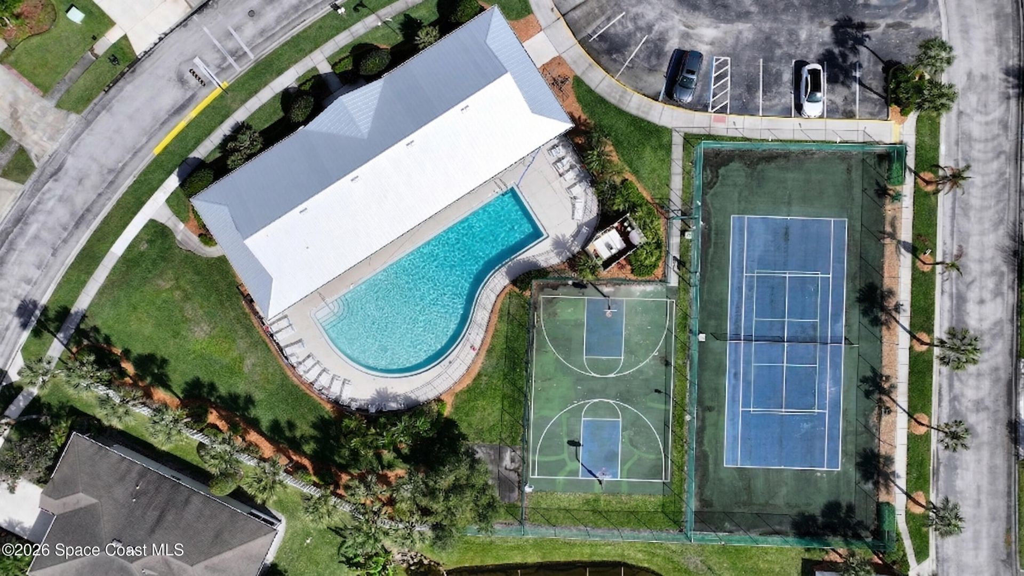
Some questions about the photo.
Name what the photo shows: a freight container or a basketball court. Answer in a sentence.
I can see a basketball court in this picture.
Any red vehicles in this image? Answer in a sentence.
No, there's no red vehicle here.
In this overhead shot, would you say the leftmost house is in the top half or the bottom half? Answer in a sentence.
It is in the bottom half that the leftmost house appears.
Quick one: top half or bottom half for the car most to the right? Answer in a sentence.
The top half of the photo is where the car most to the right is.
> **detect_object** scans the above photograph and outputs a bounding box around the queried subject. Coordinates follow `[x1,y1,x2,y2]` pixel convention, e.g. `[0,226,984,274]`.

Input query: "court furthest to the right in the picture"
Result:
[690,151,886,537]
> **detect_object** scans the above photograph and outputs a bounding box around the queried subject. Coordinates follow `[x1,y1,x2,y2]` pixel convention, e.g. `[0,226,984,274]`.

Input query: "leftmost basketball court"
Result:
[526,282,677,497]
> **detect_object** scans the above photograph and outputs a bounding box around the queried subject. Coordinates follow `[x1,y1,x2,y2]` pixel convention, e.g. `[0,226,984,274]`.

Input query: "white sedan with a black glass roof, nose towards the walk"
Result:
[799,64,826,118]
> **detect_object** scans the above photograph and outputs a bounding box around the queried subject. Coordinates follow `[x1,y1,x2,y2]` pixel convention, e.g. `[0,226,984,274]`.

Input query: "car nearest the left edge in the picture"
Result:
[671,48,702,104]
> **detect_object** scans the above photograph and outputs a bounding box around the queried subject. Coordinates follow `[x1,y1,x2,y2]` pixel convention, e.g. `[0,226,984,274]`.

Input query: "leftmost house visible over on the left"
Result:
[27,431,283,576]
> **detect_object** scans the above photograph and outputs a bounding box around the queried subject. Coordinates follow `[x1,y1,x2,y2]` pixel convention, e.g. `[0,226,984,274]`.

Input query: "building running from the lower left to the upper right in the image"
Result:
[190,5,574,322]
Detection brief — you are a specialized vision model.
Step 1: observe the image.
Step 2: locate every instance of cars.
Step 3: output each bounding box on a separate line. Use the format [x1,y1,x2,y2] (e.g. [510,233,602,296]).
[799,64,826,118]
[671,48,702,104]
